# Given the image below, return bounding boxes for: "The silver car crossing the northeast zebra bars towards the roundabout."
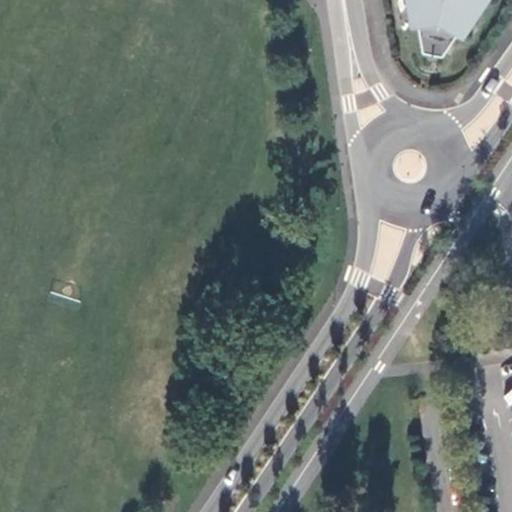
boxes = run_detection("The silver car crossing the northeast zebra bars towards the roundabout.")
[482,74,502,96]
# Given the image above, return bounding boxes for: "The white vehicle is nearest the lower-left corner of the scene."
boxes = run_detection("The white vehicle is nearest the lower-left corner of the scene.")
[223,466,240,487]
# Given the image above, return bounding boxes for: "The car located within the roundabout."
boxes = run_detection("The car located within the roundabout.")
[421,192,436,214]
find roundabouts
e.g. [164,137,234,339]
[345,96,486,237]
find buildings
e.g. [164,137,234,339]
[398,0,488,58]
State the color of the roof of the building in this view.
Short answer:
white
